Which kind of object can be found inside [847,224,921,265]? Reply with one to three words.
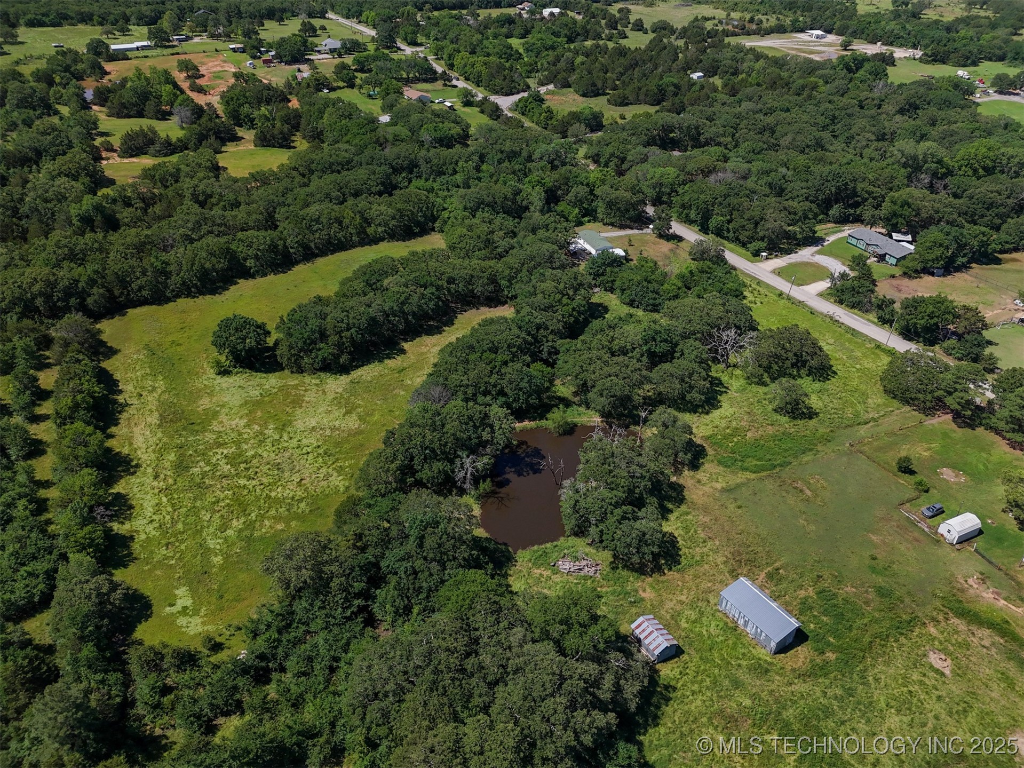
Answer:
building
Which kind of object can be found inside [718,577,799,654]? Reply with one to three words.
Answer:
barn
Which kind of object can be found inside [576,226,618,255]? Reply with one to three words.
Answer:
house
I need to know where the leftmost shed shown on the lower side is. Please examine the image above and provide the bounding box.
[632,615,678,662]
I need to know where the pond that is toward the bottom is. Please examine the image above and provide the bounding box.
[474,426,640,551]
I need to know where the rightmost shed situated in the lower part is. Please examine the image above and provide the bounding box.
[938,508,985,544]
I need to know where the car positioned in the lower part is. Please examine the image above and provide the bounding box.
[923,503,944,520]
